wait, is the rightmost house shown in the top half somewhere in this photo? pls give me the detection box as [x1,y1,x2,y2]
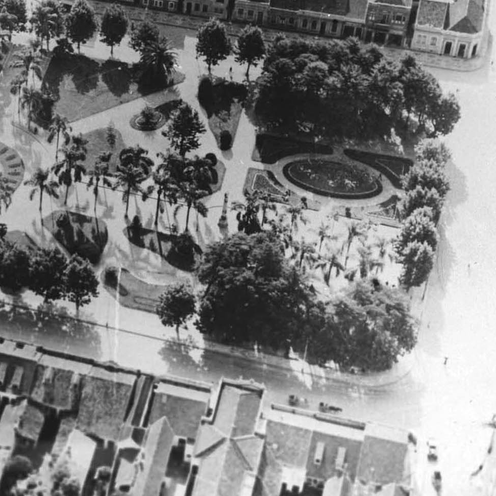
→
[442,0,488,58]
